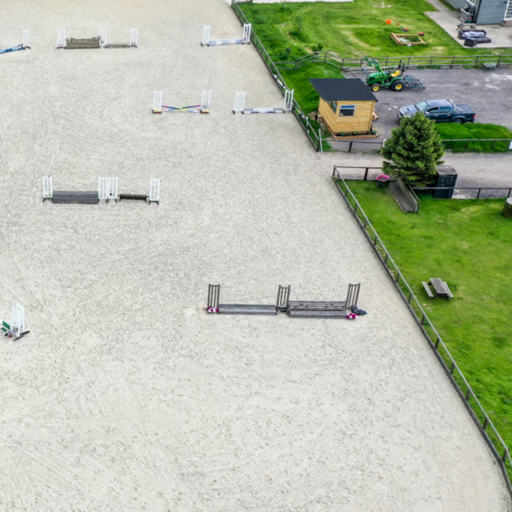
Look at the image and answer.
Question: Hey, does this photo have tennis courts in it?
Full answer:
No, I can't see a single tennis court in this photo.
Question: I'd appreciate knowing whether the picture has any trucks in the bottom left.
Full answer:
No, there is no truck in the bottom left.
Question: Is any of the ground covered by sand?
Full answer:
Yes, there is sand in the image.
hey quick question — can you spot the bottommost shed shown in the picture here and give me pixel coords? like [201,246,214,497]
[310,78,387,132]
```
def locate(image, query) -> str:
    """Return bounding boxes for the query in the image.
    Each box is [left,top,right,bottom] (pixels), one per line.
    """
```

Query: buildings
[310,78,387,132]
[447,0,512,25]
